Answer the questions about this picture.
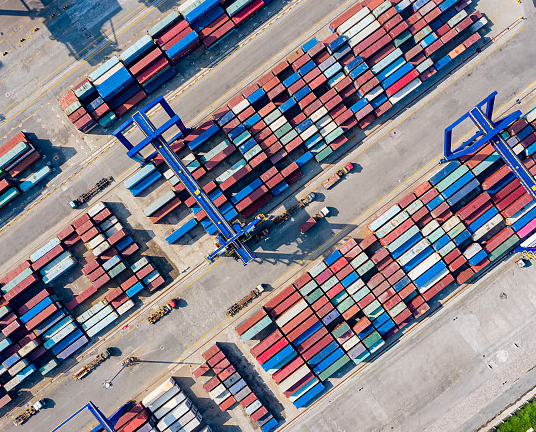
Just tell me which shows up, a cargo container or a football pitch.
cargo container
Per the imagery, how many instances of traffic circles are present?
0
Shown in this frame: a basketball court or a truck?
truck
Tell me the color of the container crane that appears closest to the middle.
blue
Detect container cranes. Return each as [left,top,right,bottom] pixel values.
[53,401,127,432]
[113,94,261,266]
[444,94,536,208]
